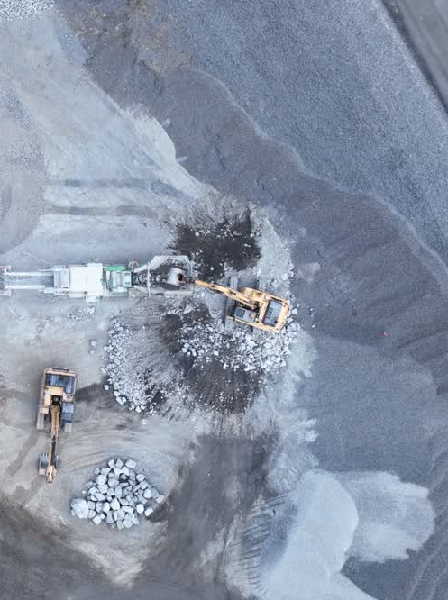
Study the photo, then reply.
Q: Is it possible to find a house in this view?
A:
No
